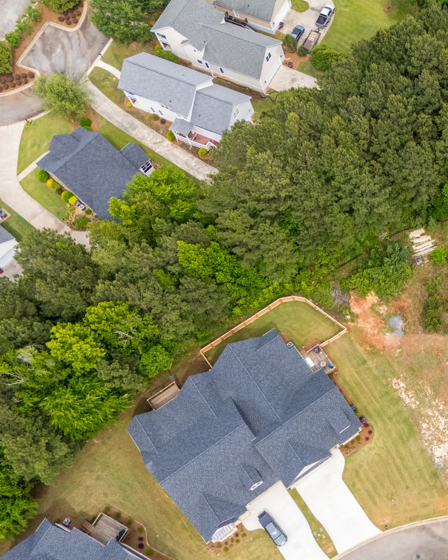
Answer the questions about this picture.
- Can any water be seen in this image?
No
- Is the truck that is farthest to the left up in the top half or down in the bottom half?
bottom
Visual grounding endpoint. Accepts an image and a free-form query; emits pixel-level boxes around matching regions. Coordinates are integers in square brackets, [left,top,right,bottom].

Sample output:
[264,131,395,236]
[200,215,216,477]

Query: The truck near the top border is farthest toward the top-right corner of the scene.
[313,4,335,31]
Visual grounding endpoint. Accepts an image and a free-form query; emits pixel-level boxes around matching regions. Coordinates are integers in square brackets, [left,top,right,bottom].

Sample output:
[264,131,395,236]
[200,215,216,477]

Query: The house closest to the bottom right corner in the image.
[127,327,362,543]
